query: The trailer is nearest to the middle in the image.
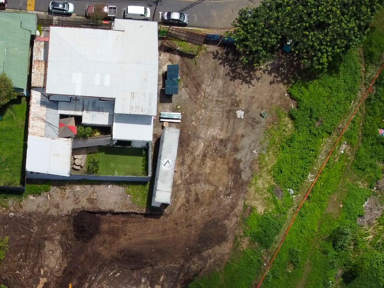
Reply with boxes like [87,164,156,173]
[152,128,179,206]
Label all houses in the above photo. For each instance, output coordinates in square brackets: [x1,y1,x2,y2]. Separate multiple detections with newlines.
[26,19,158,176]
[0,12,37,97]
